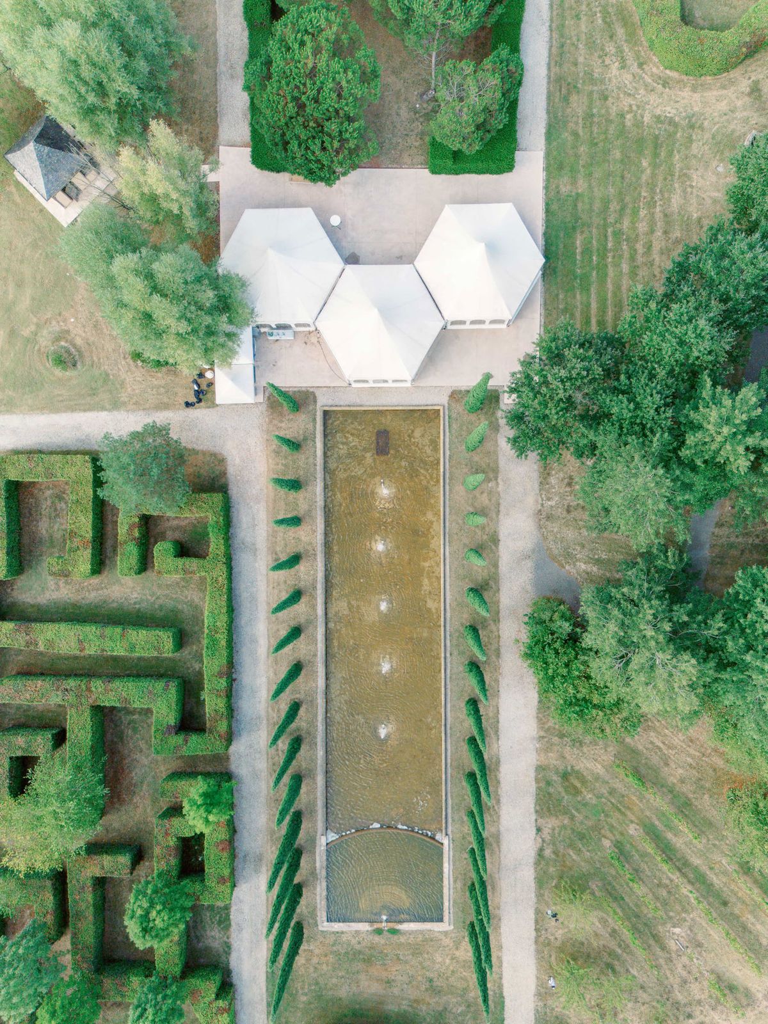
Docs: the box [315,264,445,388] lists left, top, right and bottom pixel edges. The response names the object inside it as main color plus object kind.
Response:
white tent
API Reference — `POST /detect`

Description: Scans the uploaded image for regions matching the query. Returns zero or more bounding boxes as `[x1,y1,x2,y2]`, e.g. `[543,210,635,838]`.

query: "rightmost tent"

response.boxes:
[414,203,545,331]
